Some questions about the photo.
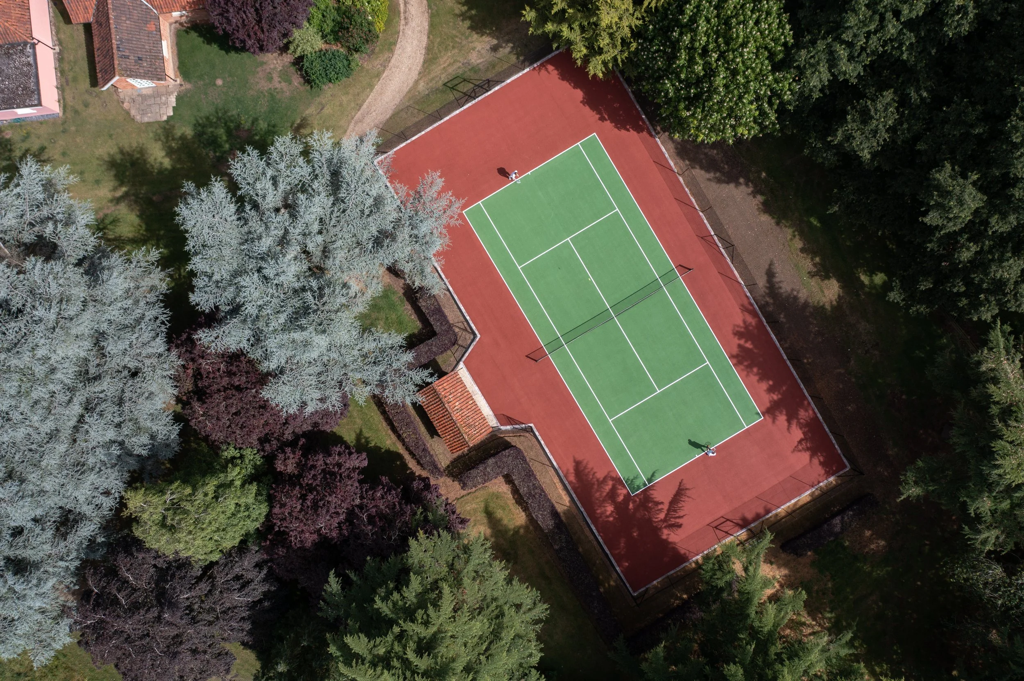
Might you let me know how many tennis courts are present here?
1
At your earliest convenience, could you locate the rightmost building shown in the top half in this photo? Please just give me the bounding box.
[65,0,219,90]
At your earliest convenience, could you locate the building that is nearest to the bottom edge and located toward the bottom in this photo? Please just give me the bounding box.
[418,365,499,454]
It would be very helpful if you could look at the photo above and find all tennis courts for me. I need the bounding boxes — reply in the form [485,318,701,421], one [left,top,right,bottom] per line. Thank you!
[372,40,851,598]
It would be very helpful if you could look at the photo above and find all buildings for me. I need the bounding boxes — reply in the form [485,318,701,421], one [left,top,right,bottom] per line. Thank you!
[65,0,219,90]
[418,365,499,454]
[0,0,61,118]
